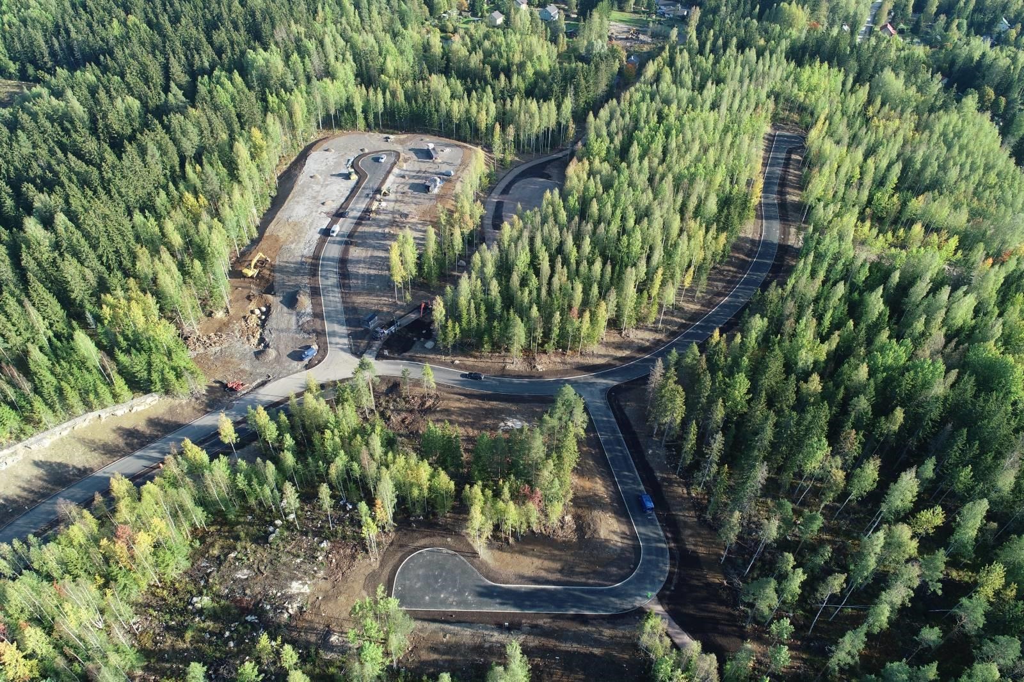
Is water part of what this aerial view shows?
No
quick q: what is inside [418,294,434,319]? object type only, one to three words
work vehicle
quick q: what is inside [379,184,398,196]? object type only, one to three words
vehicle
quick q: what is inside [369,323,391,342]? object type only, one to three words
vehicle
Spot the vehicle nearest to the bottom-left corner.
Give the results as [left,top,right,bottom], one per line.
[301,341,318,358]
